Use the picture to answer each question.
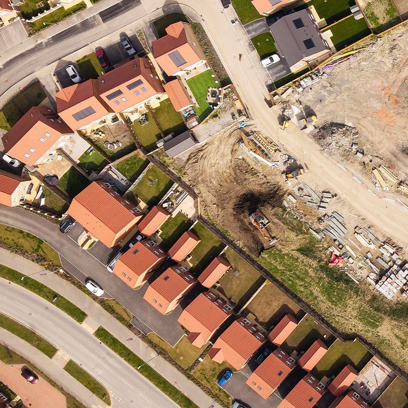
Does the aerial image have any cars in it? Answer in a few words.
Yes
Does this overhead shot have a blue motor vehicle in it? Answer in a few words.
Yes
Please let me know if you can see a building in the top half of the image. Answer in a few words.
Yes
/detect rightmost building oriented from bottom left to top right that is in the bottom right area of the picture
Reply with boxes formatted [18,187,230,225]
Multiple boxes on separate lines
[327,364,359,397]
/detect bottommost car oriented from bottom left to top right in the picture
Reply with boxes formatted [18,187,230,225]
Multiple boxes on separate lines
[215,370,234,388]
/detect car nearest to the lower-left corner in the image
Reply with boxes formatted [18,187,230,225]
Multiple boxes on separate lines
[20,367,40,386]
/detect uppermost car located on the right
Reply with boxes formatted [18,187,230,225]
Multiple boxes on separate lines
[260,54,281,68]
